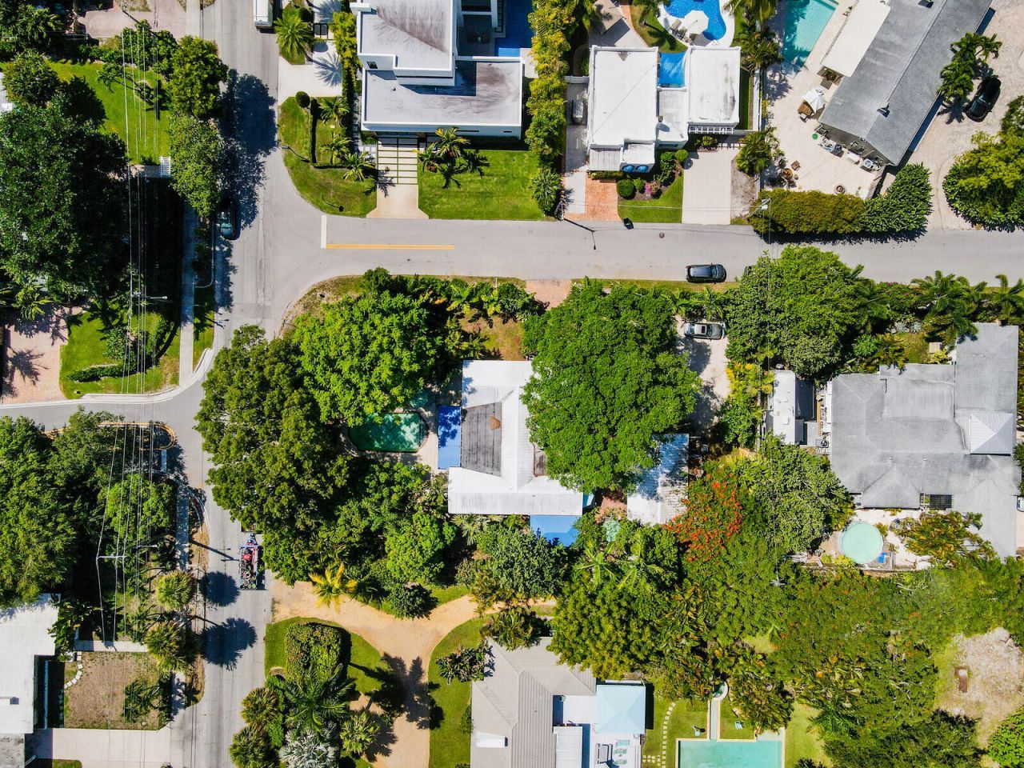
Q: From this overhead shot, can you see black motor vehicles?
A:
Yes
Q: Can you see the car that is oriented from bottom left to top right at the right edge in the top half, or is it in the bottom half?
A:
top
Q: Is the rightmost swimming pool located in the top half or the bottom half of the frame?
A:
bottom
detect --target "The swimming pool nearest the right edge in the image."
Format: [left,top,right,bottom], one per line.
[837,520,885,566]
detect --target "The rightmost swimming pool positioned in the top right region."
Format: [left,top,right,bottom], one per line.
[778,0,841,82]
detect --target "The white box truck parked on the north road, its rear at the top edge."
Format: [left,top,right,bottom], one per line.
[246,0,271,27]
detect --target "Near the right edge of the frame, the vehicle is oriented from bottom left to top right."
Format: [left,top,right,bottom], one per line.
[966,76,1000,119]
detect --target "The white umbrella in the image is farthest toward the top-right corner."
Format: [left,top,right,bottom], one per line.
[799,92,824,115]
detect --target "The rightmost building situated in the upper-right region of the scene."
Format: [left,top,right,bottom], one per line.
[814,0,992,168]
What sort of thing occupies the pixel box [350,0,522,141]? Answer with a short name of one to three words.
house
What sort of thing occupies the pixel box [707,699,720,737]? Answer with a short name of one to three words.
swimming pool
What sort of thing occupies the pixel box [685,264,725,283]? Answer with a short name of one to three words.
car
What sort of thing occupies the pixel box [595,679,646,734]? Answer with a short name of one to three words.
gazebo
